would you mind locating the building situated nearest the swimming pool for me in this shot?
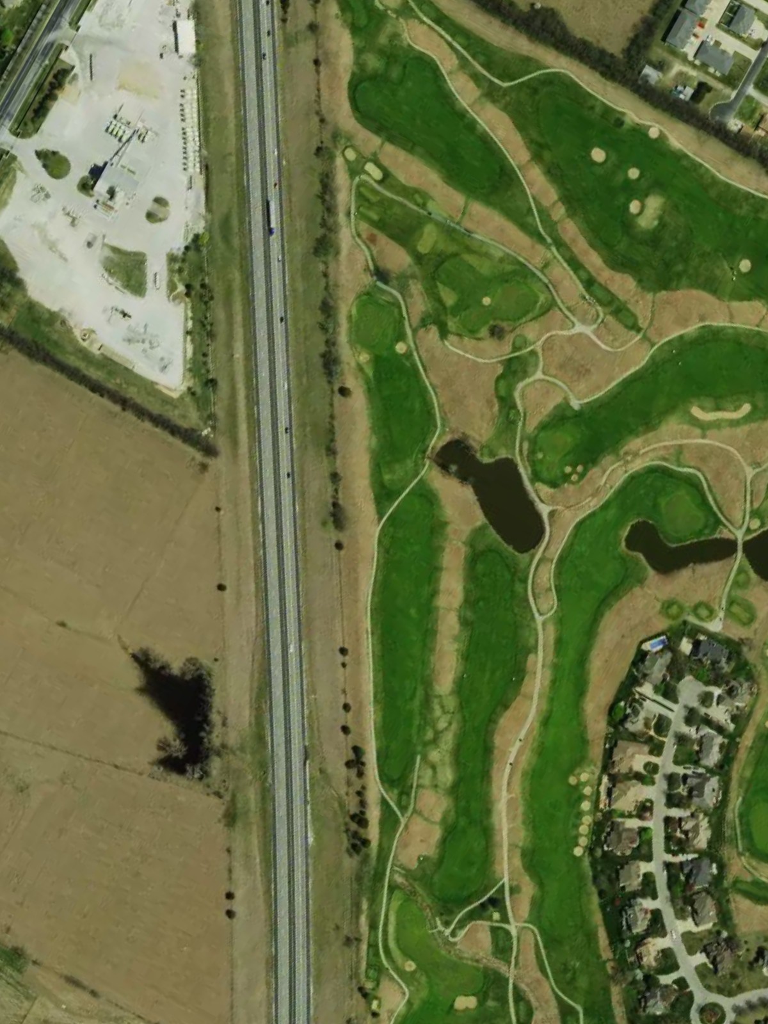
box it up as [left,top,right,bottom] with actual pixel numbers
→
[643,648,677,688]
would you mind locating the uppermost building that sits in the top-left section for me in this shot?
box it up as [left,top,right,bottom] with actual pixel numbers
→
[175,19,194,53]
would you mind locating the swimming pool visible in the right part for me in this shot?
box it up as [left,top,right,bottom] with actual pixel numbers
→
[644,634,668,650]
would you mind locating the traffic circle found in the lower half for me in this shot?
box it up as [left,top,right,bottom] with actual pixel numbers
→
[689,993,736,1024]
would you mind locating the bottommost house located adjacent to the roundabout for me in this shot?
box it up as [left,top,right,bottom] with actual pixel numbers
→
[640,984,681,1016]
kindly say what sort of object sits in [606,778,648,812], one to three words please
house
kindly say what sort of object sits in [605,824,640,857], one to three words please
house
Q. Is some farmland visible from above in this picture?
Yes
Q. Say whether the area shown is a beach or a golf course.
golf course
